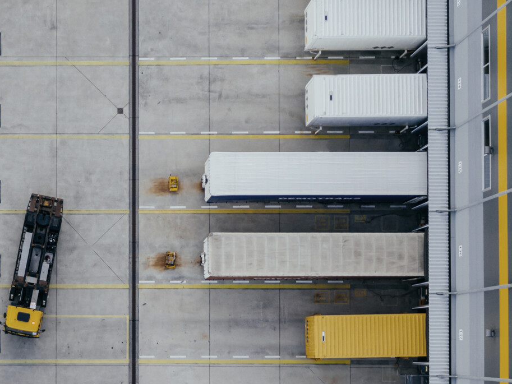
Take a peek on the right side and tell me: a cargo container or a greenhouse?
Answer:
cargo container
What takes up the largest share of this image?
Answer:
paved ground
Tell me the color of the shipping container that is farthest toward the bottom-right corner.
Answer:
yellow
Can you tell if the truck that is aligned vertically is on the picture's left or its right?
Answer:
left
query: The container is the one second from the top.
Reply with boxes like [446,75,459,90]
[305,74,427,133]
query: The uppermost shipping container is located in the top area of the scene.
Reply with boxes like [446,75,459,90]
[305,0,427,58]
